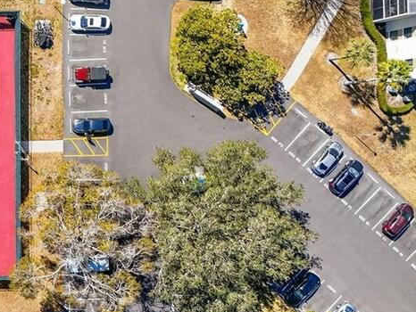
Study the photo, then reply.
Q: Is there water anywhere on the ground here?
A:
No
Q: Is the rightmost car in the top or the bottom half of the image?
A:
bottom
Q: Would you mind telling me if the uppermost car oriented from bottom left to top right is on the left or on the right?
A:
right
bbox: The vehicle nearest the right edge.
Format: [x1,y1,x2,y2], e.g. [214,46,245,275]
[379,204,415,238]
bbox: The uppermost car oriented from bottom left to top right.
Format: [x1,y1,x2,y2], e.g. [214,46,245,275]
[309,142,344,176]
